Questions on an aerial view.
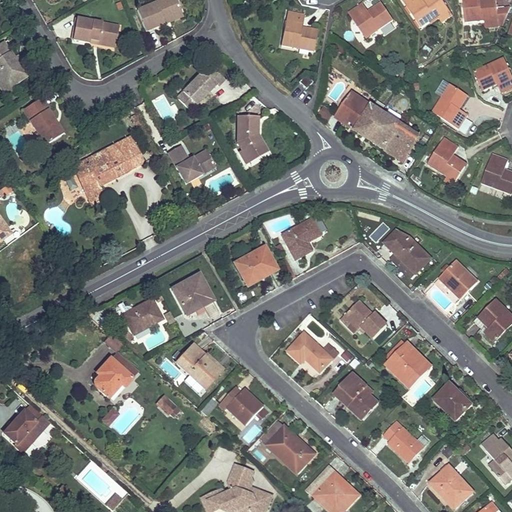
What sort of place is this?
residential area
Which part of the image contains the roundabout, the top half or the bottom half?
top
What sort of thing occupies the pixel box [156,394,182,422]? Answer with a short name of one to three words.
shed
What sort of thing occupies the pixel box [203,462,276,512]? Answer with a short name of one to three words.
house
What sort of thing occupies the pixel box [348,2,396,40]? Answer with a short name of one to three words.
house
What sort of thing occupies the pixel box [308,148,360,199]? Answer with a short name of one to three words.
roundabout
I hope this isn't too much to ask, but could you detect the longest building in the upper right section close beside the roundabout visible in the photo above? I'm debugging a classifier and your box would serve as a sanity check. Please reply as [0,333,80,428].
[332,90,421,162]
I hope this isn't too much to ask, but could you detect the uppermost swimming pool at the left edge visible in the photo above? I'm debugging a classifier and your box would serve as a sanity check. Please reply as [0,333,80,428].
[6,126,23,152]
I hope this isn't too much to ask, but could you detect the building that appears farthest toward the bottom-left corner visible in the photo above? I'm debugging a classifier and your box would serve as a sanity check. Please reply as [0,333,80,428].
[7,405,50,448]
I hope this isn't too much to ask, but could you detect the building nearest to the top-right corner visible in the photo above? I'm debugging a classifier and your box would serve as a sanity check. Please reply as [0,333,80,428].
[462,0,512,28]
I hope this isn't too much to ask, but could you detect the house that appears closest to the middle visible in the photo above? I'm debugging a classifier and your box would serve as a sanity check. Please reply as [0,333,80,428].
[233,243,280,287]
